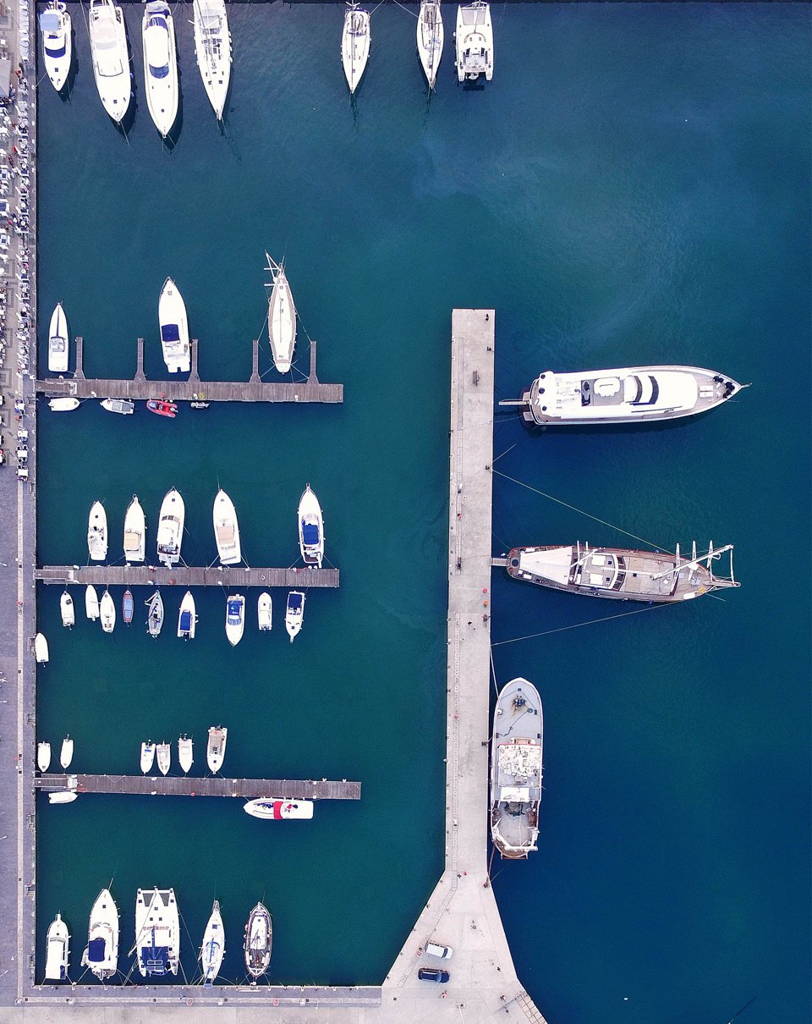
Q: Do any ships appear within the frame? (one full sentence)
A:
Yes, a ship can be made out from above.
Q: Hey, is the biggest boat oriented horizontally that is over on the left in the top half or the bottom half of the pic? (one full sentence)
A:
The bottom half of the photo is where the biggest boat oriented horizontally that is over on the left is.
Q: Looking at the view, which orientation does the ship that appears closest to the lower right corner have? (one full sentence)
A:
The ship that appears closest to the lower right corner runs up and down in the image.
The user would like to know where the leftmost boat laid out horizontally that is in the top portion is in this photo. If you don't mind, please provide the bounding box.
[47,397,80,411]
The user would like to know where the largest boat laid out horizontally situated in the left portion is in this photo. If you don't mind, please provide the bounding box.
[243,797,315,819]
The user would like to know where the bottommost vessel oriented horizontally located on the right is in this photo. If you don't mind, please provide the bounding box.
[491,537,741,604]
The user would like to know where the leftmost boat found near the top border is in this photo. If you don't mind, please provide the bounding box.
[40,0,74,92]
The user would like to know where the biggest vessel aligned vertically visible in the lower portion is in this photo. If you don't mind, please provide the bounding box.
[489,678,546,860]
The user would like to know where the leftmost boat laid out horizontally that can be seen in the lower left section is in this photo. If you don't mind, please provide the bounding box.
[46,792,78,805]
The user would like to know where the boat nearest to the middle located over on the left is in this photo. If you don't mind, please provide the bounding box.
[297,484,326,568]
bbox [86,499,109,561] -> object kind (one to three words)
boat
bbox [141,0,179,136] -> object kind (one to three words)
boat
